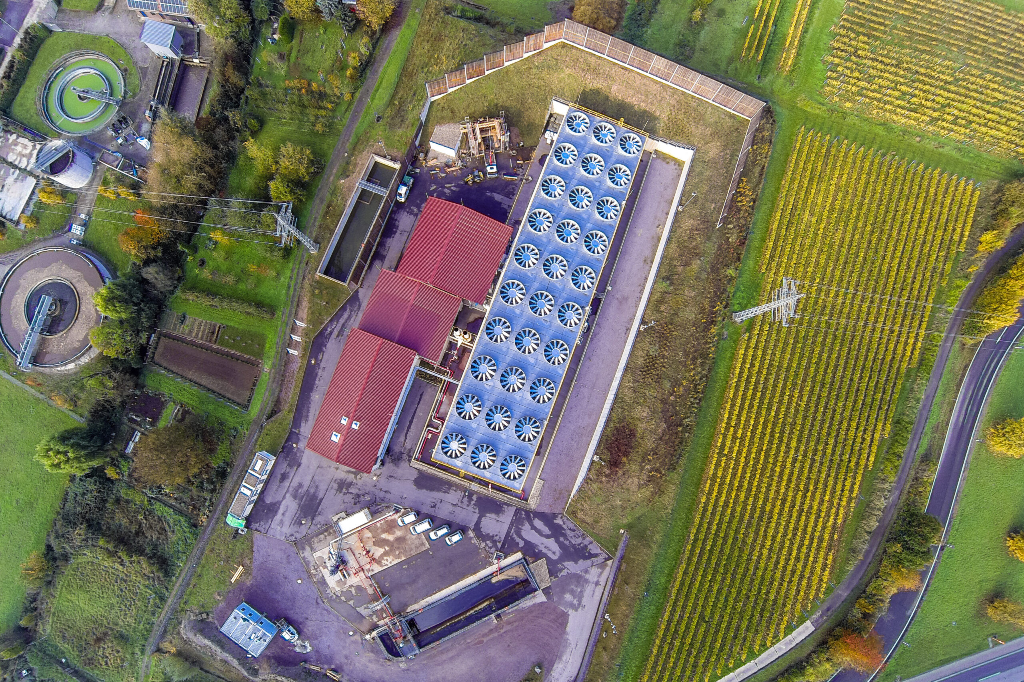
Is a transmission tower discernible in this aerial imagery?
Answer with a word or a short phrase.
Yes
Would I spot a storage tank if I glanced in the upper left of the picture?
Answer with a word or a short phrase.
Yes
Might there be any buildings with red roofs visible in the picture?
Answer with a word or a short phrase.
Yes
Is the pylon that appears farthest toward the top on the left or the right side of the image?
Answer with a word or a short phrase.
left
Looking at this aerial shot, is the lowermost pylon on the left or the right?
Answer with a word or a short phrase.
right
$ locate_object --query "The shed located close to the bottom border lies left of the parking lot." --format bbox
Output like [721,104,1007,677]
[220,599,281,659]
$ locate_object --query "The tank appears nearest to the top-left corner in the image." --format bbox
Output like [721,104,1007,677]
[39,54,127,137]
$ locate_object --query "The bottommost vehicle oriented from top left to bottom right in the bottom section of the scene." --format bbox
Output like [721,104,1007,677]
[272,612,300,648]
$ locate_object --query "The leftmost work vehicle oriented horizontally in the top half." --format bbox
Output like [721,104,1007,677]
[460,167,486,181]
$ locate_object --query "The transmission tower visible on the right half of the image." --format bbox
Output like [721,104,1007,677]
[732,278,804,324]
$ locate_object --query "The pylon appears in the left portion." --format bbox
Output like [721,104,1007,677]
[274,208,322,257]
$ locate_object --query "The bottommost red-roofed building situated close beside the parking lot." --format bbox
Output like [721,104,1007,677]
[302,326,419,475]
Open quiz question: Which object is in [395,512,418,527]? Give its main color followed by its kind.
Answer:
white car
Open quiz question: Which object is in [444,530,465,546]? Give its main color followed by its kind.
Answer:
white car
